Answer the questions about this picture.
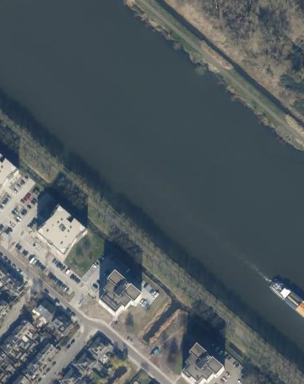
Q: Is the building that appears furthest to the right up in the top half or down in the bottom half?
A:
bottom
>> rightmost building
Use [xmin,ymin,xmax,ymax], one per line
[182,343,224,384]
